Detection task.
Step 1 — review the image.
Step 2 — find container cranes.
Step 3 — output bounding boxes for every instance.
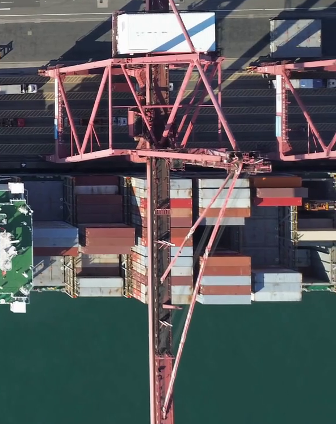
[36,0,266,424]
[251,65,336,162]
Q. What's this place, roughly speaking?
port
